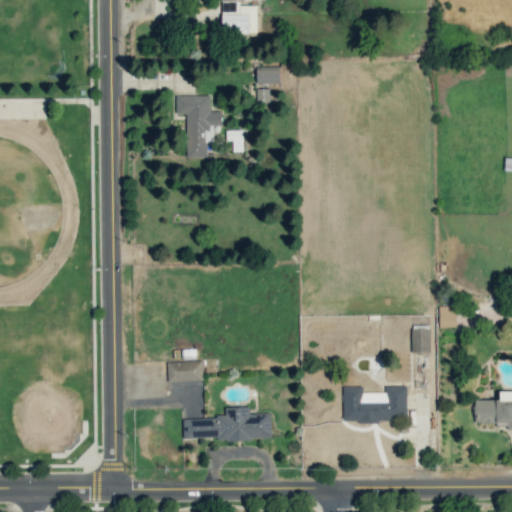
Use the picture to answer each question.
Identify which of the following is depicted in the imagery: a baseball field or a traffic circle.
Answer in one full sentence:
The one in the frame is a baseball field.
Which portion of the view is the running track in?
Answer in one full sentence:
The running track sits in the left section of the image.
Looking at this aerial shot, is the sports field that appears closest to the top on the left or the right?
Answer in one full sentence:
The sports field that appears closest to the top appears in the left half of the scene.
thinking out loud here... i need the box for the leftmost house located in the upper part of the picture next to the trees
[176,96,222,158]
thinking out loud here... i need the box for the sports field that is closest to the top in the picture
[0,138,62,288]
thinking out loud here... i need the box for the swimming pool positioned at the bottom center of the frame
[224,386,250,404]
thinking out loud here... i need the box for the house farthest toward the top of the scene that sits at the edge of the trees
[221,0,262,34]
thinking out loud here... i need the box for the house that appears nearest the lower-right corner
[476,392,512,427]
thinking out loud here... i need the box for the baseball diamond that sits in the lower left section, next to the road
[12,380,89,458]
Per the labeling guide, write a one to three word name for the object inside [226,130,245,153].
shed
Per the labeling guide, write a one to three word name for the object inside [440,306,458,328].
shed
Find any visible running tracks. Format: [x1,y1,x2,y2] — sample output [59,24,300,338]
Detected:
[0,119,80,306]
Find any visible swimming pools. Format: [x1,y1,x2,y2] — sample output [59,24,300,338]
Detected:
[224,386,250,404]
[500,361,512,388]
